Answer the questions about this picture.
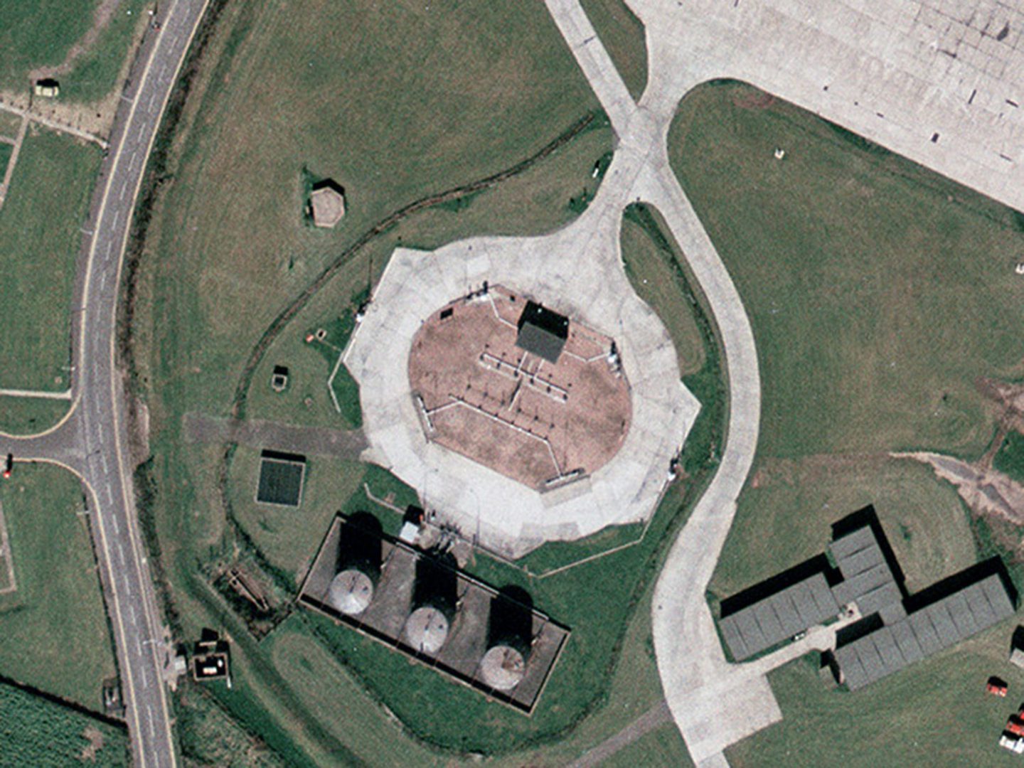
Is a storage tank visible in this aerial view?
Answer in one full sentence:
Yes, the image includes a storage tank.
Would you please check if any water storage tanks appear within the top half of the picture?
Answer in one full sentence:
No, there's no water storage tank to be seen within the top half of the picture.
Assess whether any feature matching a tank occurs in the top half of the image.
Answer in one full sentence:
No, looking in the top half of the image, there is no tank.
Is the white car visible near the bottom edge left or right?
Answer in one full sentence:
It is on the right.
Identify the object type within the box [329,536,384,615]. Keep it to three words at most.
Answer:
storage tank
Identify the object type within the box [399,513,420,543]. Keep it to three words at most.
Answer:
shed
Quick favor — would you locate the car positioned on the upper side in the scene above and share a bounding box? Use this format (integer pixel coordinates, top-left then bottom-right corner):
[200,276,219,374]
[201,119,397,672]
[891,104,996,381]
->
[35,85,59,98]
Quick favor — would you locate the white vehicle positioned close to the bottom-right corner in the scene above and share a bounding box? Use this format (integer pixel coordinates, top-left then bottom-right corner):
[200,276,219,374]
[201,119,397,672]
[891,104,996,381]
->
[1001,735,1024,755]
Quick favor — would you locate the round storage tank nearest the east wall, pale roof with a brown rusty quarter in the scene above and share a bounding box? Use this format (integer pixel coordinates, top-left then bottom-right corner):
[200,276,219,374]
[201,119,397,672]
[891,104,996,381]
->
[481,610,534,690]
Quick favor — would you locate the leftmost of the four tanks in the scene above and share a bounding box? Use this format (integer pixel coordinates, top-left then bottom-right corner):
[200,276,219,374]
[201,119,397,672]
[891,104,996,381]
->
[257,454,307,506]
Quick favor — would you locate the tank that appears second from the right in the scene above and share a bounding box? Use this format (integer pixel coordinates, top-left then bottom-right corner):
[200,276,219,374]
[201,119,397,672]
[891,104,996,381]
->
[405,573,459,653]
